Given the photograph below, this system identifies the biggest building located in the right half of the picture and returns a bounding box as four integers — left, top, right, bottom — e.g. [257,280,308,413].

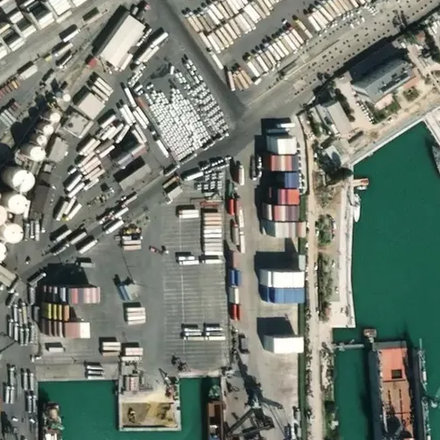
[344,59,413,101]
